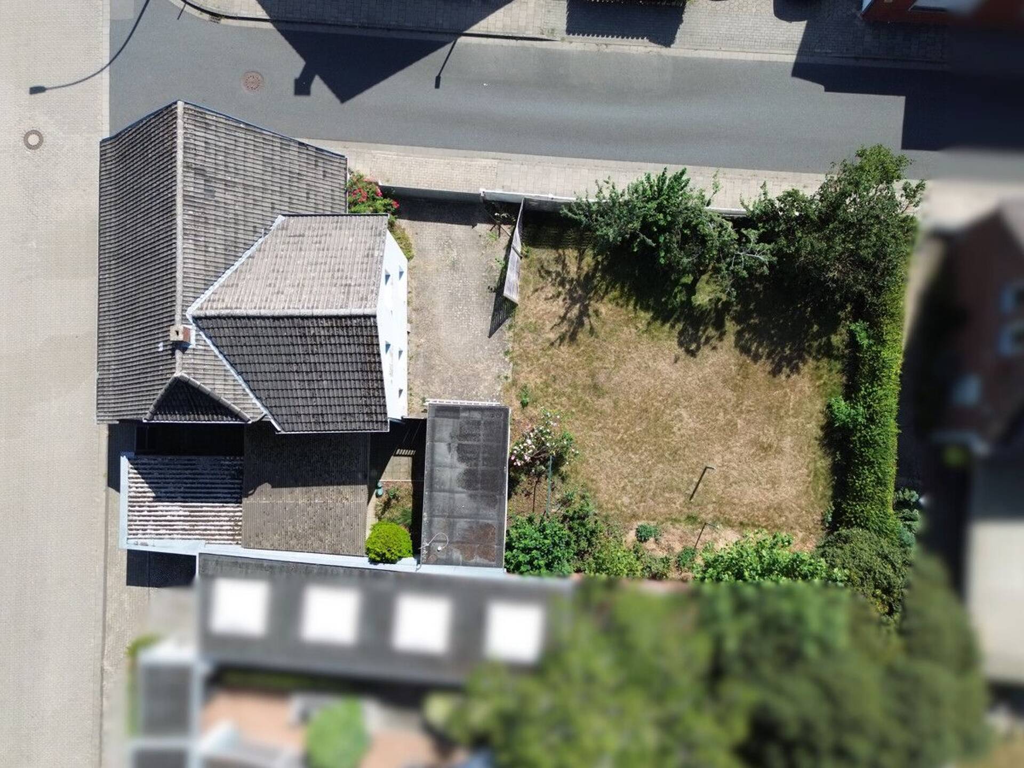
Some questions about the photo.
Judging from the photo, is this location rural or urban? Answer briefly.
urban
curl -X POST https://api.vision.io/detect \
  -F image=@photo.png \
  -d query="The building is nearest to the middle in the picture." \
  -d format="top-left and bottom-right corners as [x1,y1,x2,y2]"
[421,396,510,568]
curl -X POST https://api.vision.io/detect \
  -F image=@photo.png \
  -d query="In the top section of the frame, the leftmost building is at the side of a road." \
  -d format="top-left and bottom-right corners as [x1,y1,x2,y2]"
[94,99,408,434]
